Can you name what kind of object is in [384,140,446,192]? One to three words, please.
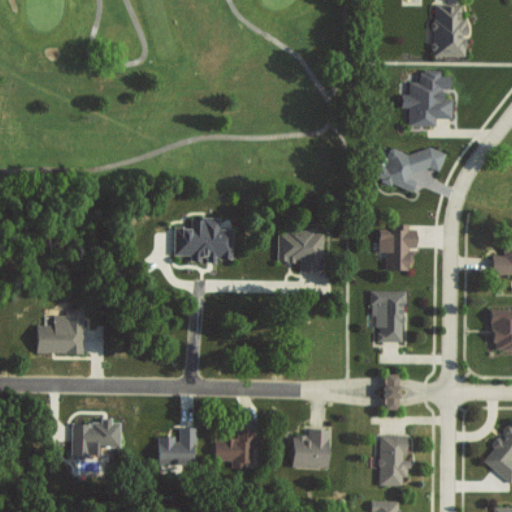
house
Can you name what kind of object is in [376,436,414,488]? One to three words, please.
house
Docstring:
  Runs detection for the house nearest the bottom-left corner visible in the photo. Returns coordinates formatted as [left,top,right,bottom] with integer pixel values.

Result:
[72,420,122,459]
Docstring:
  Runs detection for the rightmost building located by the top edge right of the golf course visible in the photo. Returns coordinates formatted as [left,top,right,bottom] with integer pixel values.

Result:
[432,0,475,58]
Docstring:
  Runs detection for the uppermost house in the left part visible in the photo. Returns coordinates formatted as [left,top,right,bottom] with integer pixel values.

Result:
[175,218,234,264]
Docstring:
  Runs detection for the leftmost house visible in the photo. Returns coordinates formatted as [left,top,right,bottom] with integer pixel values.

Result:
[37,316,84,355]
